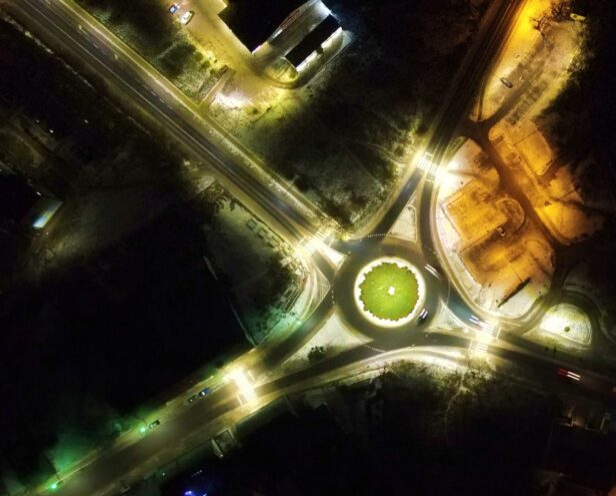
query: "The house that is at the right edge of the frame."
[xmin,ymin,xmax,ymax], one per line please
[545,422,616,494]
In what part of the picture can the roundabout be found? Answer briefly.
center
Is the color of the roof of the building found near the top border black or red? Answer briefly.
black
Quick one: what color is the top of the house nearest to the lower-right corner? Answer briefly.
black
